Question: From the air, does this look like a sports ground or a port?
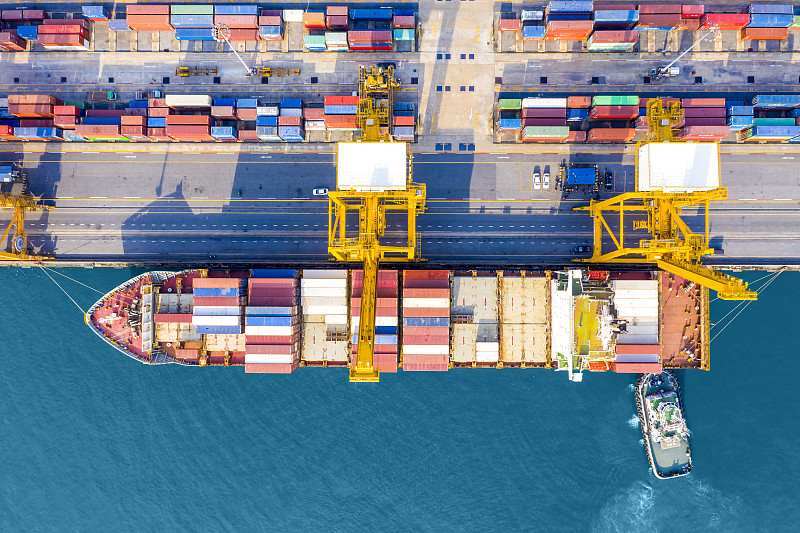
port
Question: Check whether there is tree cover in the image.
No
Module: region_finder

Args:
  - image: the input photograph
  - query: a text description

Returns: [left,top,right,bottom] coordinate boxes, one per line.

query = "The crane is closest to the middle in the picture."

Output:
[326,62,430,383]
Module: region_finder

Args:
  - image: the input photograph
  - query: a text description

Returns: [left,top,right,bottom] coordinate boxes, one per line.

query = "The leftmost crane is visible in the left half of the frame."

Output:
[0,195,52,261]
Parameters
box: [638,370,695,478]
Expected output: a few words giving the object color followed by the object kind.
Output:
white boat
